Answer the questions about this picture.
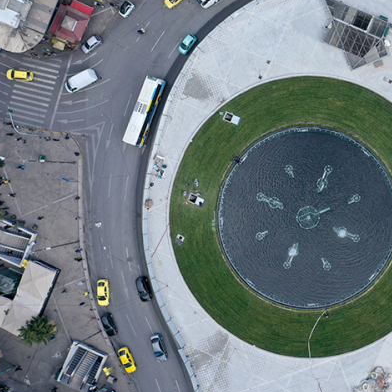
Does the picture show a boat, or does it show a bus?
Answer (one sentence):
The image shows a bus.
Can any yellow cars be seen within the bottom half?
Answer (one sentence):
Yes, a yellow car can be seen within the bottom half.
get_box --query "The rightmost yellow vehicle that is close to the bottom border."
[117,345,138,373]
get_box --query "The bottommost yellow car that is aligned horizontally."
[6,67,36,82]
